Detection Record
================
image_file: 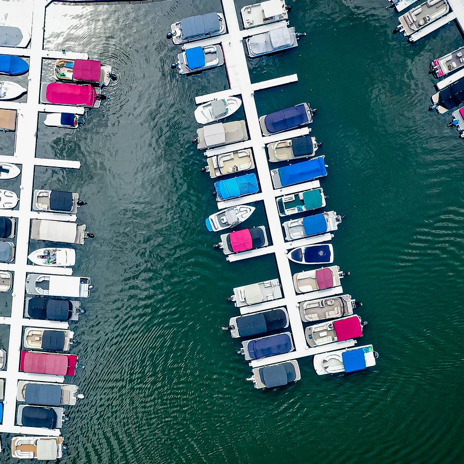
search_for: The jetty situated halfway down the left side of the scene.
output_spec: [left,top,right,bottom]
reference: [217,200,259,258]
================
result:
[0,2,90,437]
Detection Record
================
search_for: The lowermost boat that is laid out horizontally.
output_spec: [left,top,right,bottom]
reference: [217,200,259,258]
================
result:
[10,434,72,461]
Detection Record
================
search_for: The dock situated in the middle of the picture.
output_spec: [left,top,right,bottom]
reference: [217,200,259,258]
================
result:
[181,0,358,369]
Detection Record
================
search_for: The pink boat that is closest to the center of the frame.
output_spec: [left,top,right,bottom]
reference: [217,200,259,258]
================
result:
[214,223,274,254]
